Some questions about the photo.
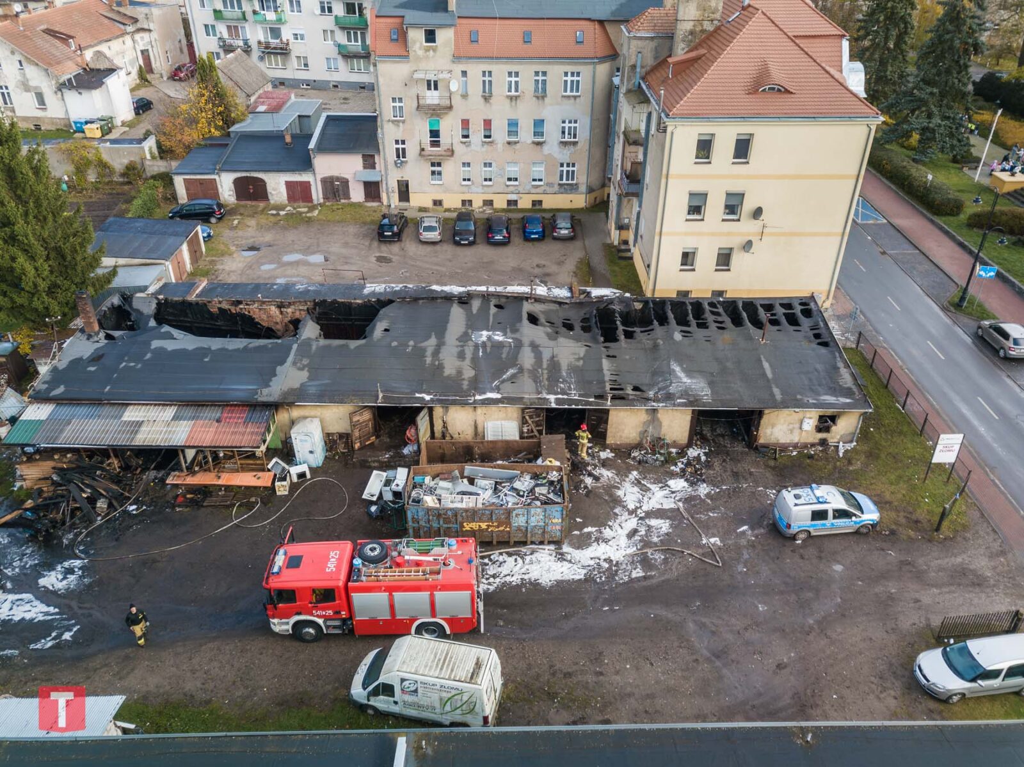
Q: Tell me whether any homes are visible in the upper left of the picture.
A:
Yes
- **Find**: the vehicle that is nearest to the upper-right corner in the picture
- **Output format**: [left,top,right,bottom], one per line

[974,319,1024,364]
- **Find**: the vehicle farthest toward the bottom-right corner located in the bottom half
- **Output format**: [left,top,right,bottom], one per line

[906,628,1024,705]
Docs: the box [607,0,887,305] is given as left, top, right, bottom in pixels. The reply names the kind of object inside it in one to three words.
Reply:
house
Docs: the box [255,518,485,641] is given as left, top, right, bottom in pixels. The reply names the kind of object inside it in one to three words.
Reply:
truck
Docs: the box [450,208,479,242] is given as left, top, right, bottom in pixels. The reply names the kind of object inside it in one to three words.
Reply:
car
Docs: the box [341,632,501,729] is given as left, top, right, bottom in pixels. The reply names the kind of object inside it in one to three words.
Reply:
van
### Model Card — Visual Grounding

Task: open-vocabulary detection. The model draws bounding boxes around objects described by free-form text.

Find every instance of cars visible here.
[417,210,445,239]
[519,209,546,237]
[166,196,225,220]
[450,208,479,242]
[974,319,1024,364]
[166,214,220,238]
[486,211,514,241]
[379,208,416,239]
[135,97,160,111]
[170,64,190,78]
[549,209,577,237]
[906,628,1024,705]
